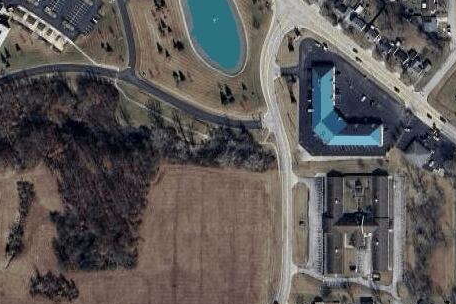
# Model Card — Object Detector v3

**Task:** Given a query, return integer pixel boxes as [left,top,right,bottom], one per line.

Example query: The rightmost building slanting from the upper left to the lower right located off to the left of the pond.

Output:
[7,6,73,52]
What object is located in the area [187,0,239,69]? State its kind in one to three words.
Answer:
pond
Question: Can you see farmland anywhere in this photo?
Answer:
Yes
